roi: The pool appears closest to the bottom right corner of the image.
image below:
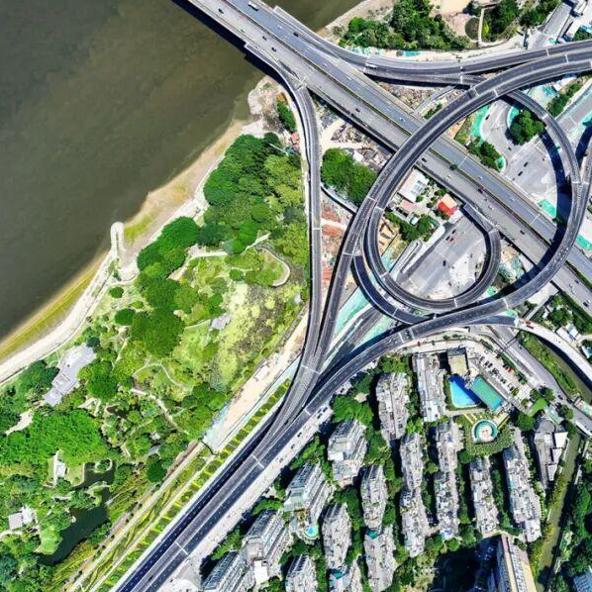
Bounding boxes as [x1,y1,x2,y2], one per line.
[472,419,498,444]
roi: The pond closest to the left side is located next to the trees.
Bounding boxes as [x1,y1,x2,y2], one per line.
[37,459,116,564]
